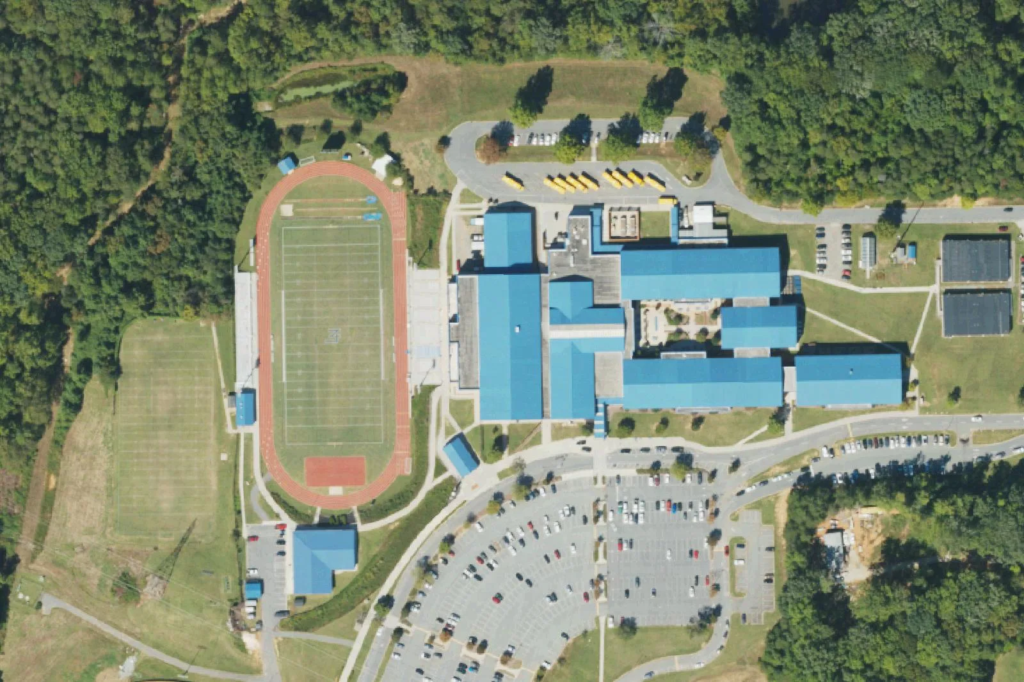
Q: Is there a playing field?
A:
Yes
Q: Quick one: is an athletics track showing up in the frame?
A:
Yes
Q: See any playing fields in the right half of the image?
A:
No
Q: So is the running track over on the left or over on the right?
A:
left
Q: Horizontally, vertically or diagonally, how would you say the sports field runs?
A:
vertically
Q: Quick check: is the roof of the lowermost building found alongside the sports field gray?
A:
No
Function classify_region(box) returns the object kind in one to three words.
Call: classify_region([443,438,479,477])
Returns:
building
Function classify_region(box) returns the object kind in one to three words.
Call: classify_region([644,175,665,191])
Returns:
vehicle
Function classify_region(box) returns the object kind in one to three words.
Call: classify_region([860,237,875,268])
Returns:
greenhouse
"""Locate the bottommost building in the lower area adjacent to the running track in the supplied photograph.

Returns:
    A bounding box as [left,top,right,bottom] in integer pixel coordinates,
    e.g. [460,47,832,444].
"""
[293,530,356,595]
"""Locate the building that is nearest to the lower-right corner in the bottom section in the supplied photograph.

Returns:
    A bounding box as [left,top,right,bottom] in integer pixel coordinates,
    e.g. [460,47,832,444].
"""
[825,532,845,564]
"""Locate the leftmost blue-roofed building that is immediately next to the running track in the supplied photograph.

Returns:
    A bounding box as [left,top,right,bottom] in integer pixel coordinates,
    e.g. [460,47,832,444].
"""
[236,393,254,426]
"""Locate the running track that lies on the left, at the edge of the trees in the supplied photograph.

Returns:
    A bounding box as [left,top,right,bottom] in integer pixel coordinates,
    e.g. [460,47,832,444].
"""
[257,161,410,511]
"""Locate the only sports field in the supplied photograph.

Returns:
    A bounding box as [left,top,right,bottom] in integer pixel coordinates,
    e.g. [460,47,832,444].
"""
[271,175,395,497]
